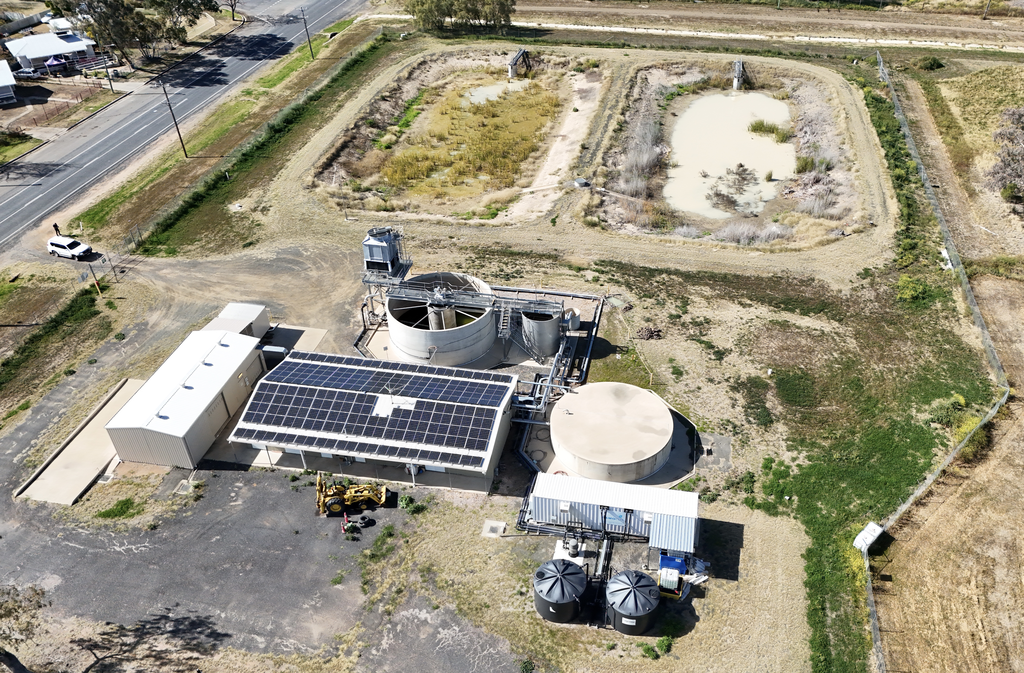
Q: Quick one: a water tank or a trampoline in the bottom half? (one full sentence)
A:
You can see a water tank in the bottom half.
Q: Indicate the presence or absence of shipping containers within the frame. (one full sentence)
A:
Yes, a shipping container is visible in the scene.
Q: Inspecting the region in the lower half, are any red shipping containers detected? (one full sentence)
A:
No, the scene shows no red shipping container in the lower half.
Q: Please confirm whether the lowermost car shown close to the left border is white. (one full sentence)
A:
Yes, the lowermost car shown close to the left border is indeed white.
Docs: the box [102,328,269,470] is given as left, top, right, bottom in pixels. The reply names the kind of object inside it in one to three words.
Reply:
shed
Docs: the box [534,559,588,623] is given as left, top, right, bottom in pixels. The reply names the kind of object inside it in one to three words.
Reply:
water tank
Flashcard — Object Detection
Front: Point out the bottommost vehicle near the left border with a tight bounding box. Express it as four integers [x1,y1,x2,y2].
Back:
[47,235,94,260]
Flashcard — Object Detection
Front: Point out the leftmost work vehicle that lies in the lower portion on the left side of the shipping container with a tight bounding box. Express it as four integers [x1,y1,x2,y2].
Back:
[309,480,388,518]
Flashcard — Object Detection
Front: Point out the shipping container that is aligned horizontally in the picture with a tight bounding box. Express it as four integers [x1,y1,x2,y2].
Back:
[526,473,699,545]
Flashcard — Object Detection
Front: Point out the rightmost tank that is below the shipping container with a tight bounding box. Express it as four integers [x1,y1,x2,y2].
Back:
[603,568,660,635]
